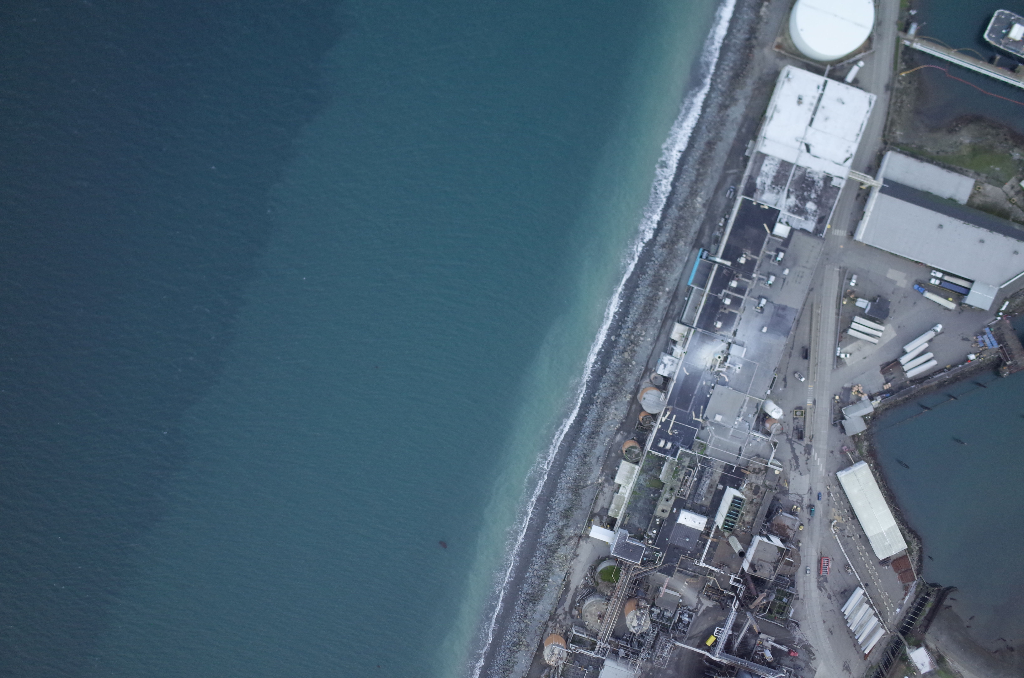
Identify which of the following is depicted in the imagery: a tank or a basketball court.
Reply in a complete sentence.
The image shows a tank.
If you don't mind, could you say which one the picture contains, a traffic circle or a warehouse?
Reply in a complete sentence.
Of the two, only a warehouse appears.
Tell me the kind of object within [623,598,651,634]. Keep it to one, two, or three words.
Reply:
storage tank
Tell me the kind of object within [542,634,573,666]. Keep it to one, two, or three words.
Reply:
storage tank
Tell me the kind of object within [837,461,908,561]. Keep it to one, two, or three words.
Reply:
building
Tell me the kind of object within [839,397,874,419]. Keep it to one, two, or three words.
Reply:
shed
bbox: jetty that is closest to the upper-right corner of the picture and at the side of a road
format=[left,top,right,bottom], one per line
[896,32,1024,91]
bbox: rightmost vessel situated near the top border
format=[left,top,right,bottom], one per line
[983,9,1024,59]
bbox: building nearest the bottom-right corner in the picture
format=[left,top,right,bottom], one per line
[907,643,935,674]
